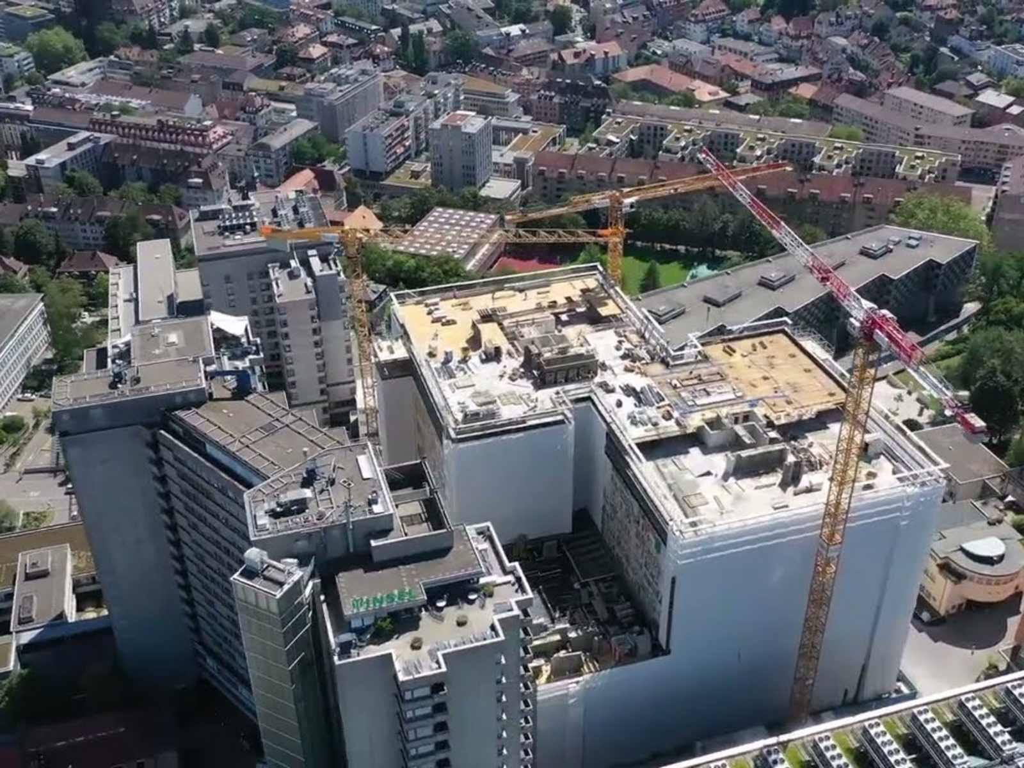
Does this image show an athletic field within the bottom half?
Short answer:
No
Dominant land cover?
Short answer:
buildings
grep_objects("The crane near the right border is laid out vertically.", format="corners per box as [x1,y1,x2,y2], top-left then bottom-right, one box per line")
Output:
[693,147,984,736]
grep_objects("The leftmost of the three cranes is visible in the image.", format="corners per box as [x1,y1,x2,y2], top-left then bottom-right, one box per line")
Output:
[256,230,631,477]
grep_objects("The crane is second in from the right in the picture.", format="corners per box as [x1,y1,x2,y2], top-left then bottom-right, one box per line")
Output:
[505,160,793,301]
